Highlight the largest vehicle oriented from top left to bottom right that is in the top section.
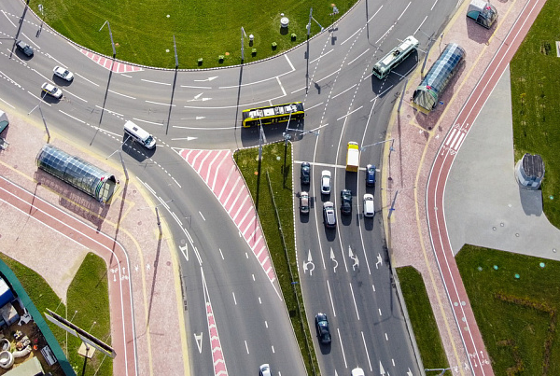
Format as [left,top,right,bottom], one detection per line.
[123,120,157,149]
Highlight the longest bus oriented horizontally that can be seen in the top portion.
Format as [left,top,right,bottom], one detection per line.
[240,101,306,127]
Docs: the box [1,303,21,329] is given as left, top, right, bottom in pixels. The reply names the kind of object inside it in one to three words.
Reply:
building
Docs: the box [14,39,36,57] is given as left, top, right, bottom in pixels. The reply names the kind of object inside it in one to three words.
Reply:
car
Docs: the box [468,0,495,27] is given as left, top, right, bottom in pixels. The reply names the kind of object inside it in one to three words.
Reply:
building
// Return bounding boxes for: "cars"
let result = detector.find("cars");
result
[340,191,352,216]
[52,66,75,82]
[352,369,364,376]
[315,314,331,344]
[321,170,332,195]
[300,162,312,185]
[363,195,375,219]
[259,362,272,376]
[299,191,311,216]
[324,203,337,228]
[40,82,64,99]
[366,164,377,186]
[14,39,36,57]
[123,120,157,149]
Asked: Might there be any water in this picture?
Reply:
No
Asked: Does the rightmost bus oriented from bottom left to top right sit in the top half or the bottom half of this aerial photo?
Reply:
top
